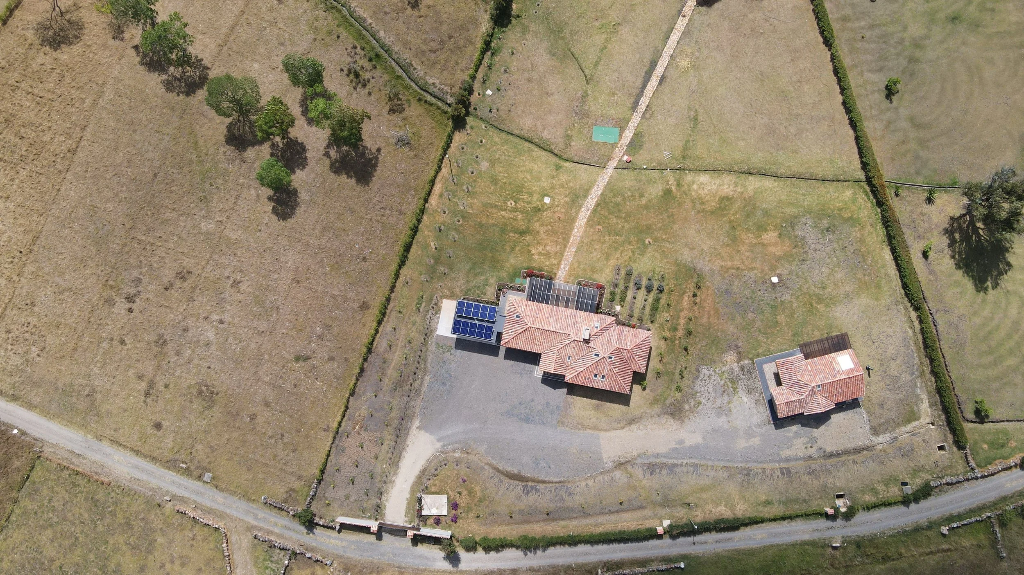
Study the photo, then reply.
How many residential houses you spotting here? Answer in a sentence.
In total, there are 2 residential houses in the scene.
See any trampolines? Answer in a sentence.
No, the scene contains no trampoline.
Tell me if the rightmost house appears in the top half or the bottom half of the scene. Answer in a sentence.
It is in the bottom half that the rightmost house appears.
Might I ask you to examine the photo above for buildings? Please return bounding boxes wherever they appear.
[500,298,653,395]
[770,348,866,419]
